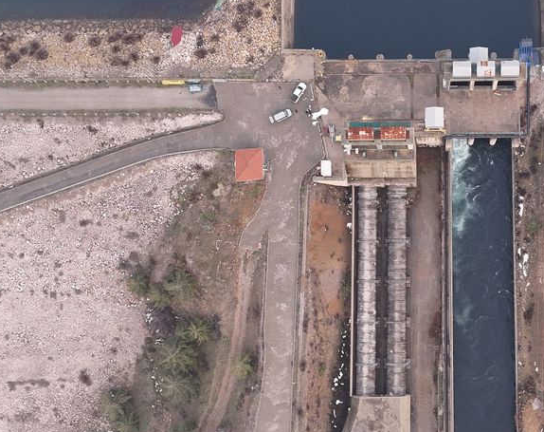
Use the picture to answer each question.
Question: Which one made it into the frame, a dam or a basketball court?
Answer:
dam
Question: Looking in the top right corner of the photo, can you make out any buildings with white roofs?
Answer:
Yes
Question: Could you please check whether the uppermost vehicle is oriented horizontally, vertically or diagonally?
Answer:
diagonally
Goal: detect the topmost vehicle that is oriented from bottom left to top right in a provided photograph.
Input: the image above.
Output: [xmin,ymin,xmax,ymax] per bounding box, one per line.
[289,82,309,104]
